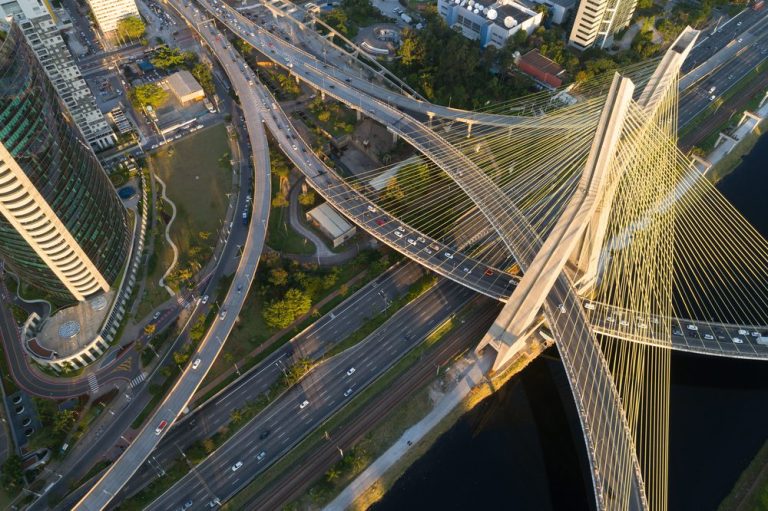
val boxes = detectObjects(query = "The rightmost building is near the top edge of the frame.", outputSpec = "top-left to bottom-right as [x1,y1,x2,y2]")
[570,0,628,53]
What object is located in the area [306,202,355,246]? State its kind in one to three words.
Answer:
building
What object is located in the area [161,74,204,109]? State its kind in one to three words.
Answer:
building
